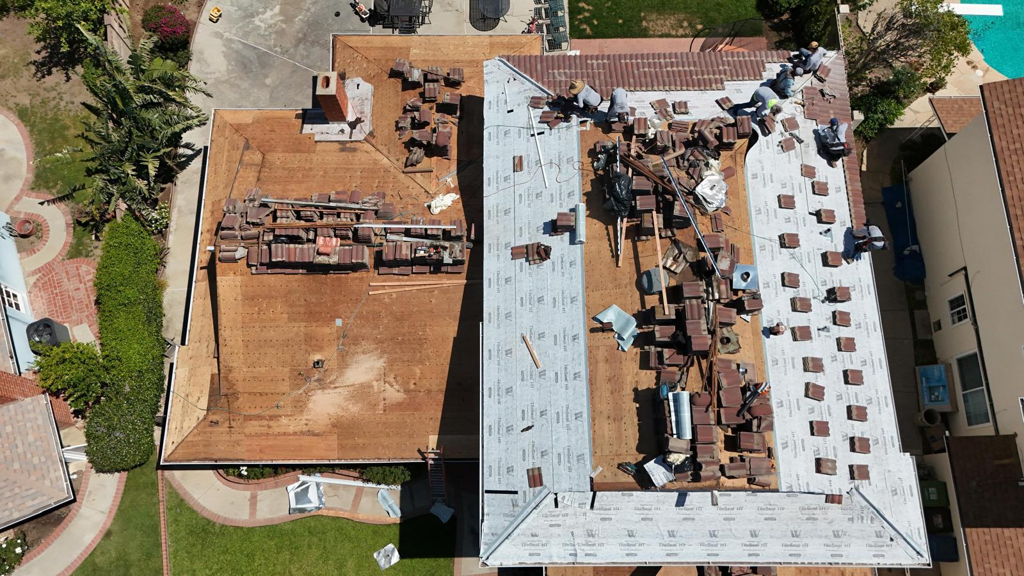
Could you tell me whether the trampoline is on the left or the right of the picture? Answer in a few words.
right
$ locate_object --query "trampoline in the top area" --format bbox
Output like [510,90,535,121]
[701,0,787,52]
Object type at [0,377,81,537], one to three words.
house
